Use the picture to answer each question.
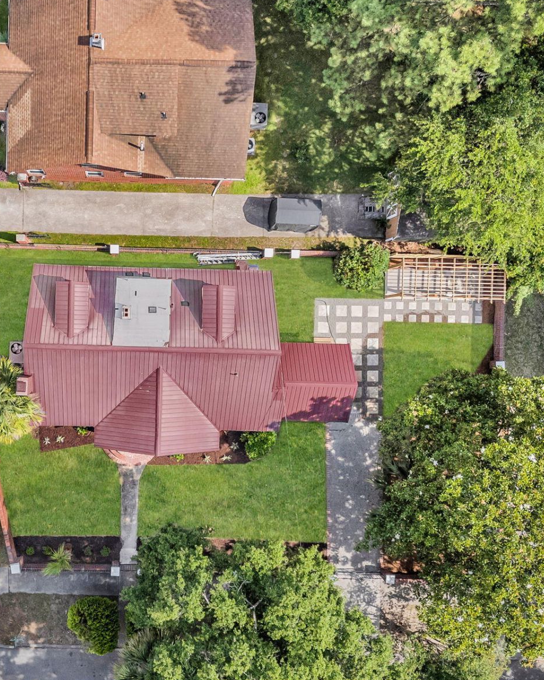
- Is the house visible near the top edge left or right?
left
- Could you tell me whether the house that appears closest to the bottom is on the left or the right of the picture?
left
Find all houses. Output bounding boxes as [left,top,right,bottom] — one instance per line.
[0,0,257,198]
[15,263,358,466]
